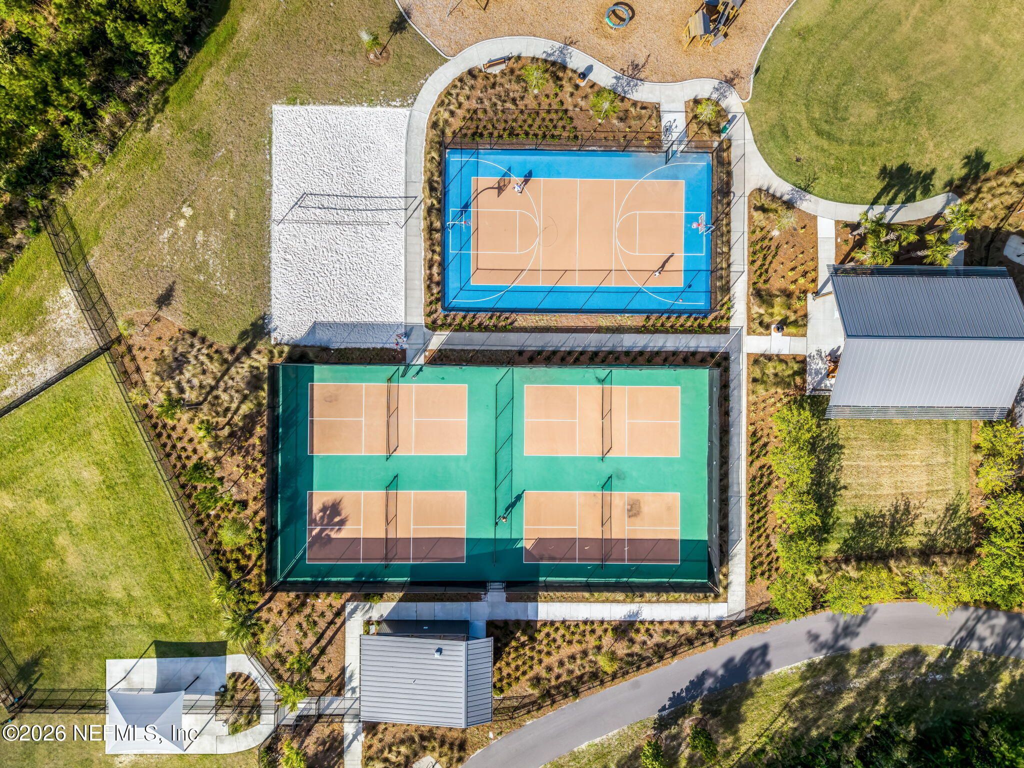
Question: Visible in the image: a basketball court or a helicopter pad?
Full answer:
Visible in the photo is a basketball court.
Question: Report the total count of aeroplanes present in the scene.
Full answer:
The count of aeroplanes is 0.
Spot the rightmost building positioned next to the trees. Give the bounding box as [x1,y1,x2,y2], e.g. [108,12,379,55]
[814,262,1024,425]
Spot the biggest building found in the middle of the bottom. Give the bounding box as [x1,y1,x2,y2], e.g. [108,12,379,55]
[359,612,494,728]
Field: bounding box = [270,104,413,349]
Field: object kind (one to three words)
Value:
sports court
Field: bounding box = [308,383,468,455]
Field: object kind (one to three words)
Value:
sports court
